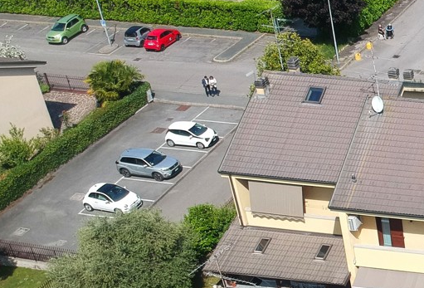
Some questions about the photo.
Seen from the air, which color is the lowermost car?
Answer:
white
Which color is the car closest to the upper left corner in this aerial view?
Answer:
green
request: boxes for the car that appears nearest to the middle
[159,118,217,150]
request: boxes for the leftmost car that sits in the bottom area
[76,178,143,215]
